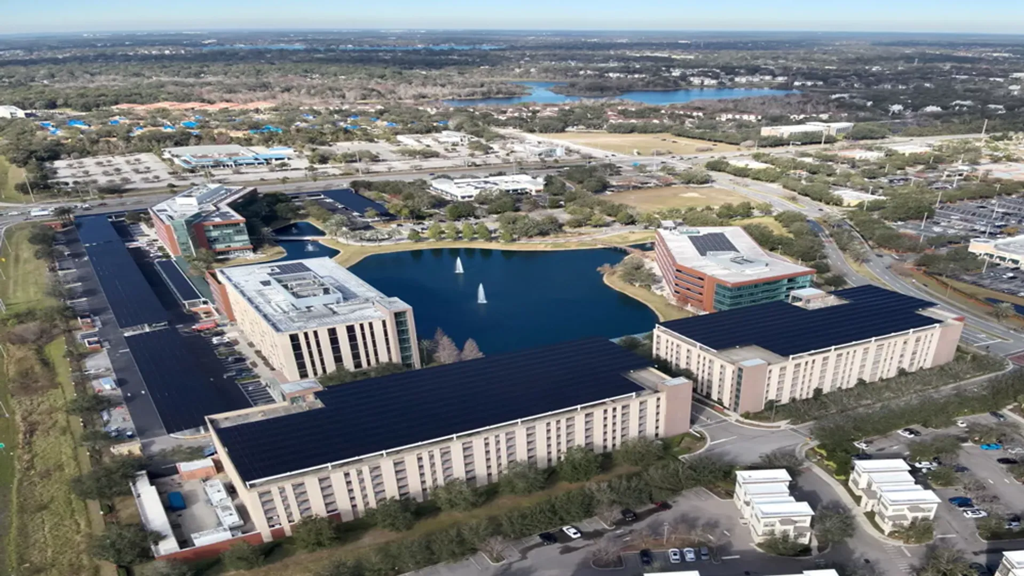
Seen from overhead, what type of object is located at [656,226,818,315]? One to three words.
building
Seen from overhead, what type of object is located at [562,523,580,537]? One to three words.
car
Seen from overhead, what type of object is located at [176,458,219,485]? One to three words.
shed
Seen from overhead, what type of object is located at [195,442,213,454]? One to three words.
vehicle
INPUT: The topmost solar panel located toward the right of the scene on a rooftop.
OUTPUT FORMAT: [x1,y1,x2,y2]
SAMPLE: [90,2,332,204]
[688,232,740,256]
